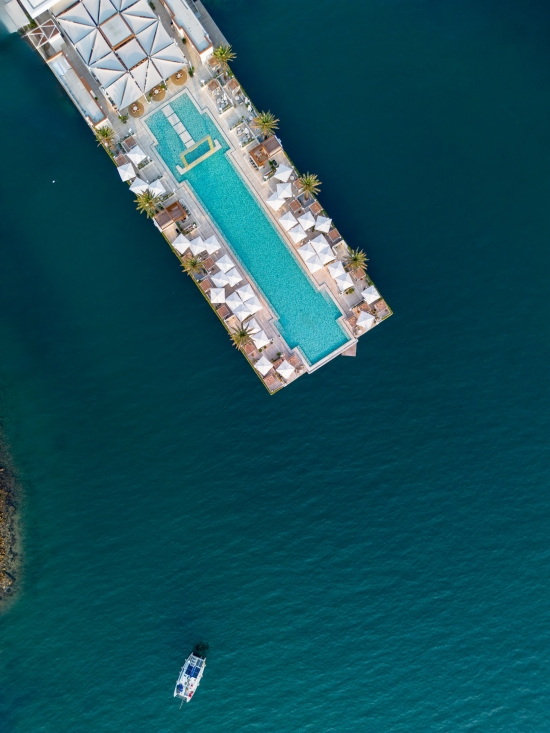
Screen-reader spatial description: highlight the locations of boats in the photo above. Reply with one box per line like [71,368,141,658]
[170,652,208,710]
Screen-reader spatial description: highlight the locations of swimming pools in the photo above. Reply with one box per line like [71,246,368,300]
[139,87,357,374]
